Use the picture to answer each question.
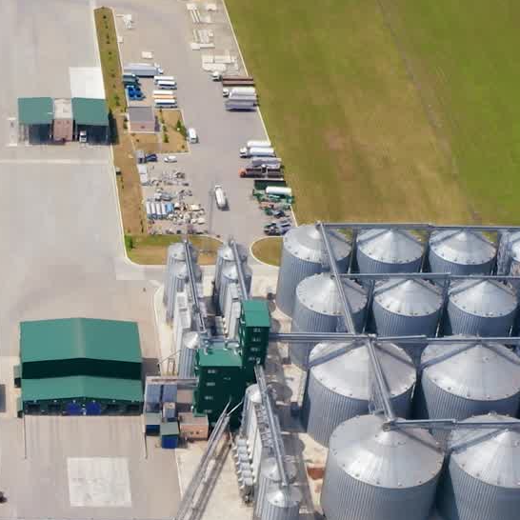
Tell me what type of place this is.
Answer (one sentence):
This image shows an industrial area.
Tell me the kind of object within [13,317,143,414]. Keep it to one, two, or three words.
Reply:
building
